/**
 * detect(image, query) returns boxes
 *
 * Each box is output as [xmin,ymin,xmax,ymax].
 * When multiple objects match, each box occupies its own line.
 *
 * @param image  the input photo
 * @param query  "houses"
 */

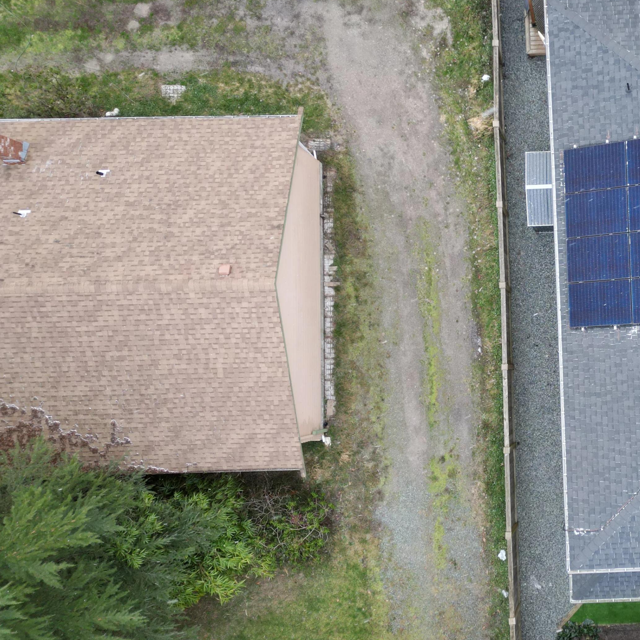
[0,112,331,481]
[542,0,640,605]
